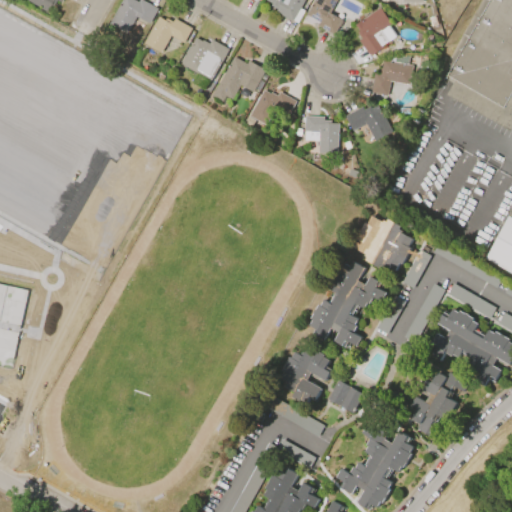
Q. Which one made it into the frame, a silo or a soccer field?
soccer field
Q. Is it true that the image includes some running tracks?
Yes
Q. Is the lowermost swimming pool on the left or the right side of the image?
right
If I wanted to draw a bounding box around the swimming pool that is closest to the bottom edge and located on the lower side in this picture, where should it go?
[364,352,387,380]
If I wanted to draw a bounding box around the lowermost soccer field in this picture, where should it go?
[61,165,302,488]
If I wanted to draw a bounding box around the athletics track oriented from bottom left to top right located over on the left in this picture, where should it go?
[42,152,314,500]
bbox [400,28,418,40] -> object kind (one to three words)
swimming pool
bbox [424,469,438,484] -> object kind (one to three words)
vehicle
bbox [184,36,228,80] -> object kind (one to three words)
house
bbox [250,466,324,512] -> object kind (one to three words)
building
